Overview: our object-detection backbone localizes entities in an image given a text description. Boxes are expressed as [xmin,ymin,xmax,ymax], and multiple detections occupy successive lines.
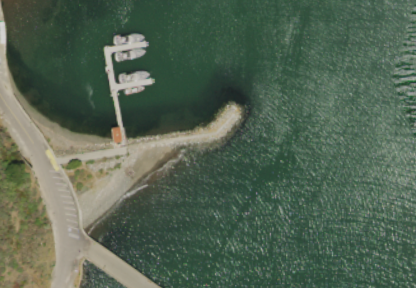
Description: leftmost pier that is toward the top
[104,42,155,146]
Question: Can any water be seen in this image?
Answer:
Yes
